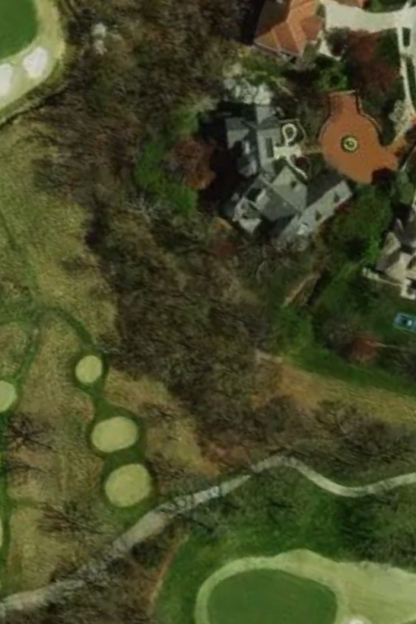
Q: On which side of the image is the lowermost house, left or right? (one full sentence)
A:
The lowermost house is on the right side of the image.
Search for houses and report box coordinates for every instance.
[370,206,416,292]
[254,0,367,62]
[225,107,355,242]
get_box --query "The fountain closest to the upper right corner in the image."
[340,134,358,152]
